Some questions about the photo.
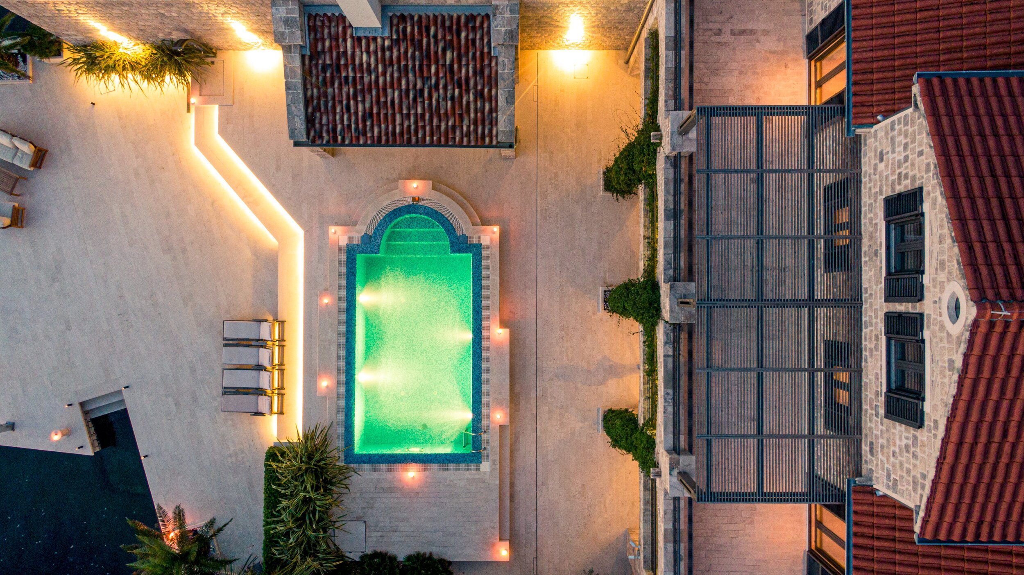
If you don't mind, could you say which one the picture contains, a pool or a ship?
pool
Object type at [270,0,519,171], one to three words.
building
